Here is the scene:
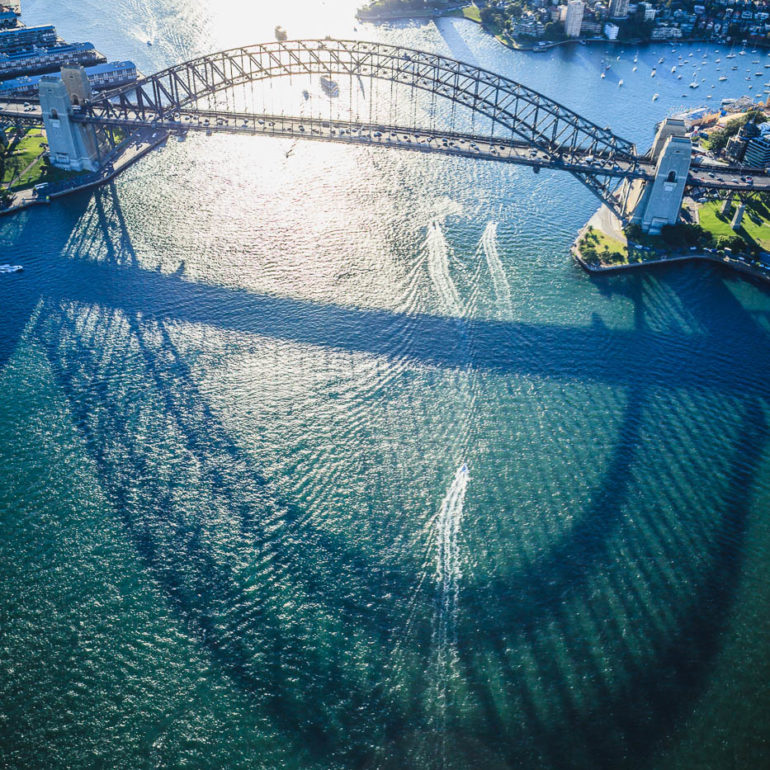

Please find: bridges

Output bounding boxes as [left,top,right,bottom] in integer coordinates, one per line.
[0,37,770,238]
